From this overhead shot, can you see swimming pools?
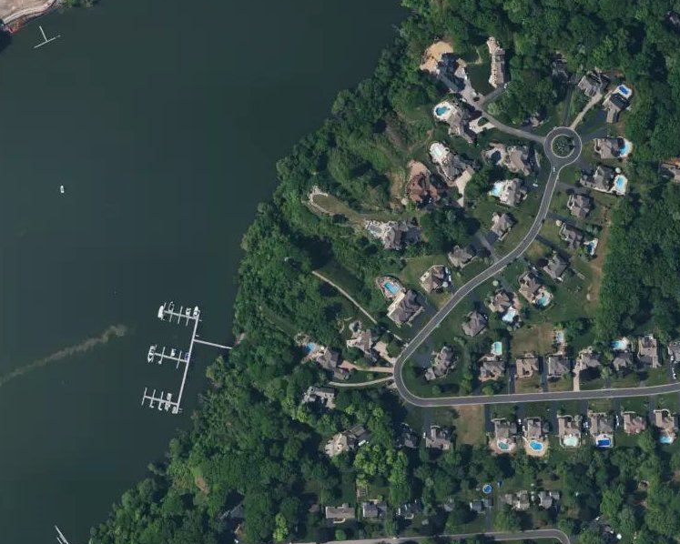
Yes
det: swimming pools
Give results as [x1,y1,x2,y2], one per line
[561,436,581,448]
[490,438,517,453]
[488,180,503,196]
[383,278,404,301]
[619,135,631,157]
[555,329,564,347]
[612,339,630,350]
[502,306,517,324]
[305,341,317,354]
[596,434,612,447]
[488,145,505,163]
[523,438,548,461]
[658,433,674,443]
[352,320,361,332]
[492,341,503,353]
[612,173,628,194]
[535,290,552,308]
[615,81,634,99]
[430,142,448,163]
[585,240,597,255]
[434,101,454,119]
